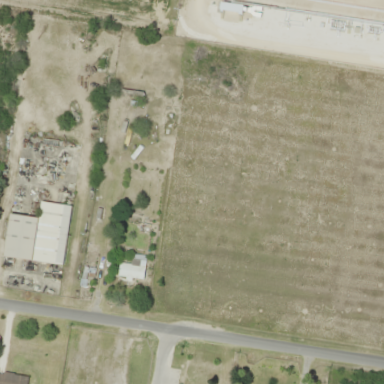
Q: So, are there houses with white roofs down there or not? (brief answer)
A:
Yes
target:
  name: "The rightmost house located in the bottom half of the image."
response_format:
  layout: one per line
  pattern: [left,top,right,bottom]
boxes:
[118,254,147,282]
